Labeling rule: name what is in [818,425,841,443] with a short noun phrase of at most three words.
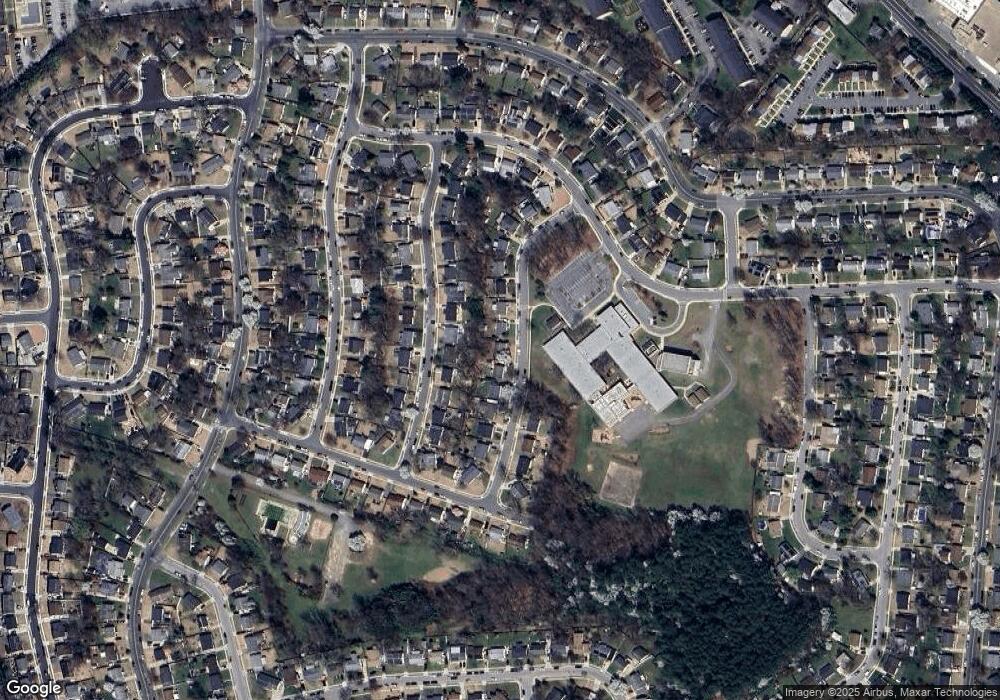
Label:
house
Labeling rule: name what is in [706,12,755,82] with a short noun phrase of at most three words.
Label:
building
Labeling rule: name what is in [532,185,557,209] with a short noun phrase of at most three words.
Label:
house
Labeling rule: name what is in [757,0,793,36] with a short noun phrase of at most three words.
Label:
building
